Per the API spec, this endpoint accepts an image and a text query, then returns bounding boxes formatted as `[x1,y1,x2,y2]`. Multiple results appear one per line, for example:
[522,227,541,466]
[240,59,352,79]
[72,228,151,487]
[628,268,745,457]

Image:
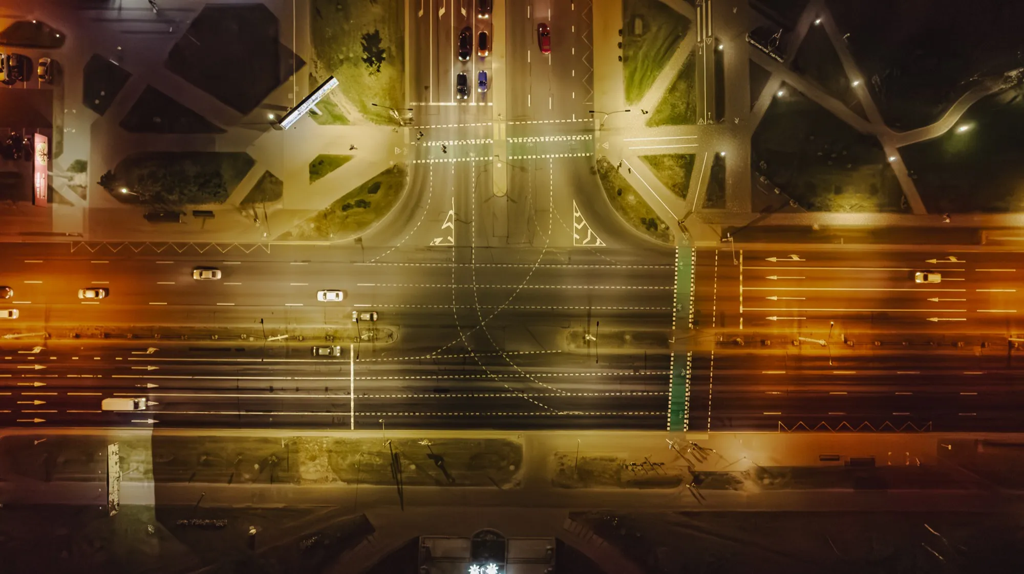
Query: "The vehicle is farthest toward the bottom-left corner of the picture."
[99,397,146,412]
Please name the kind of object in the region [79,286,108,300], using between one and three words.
car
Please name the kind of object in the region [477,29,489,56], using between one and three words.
vehicle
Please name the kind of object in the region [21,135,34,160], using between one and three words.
vehicle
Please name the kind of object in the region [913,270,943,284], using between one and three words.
car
